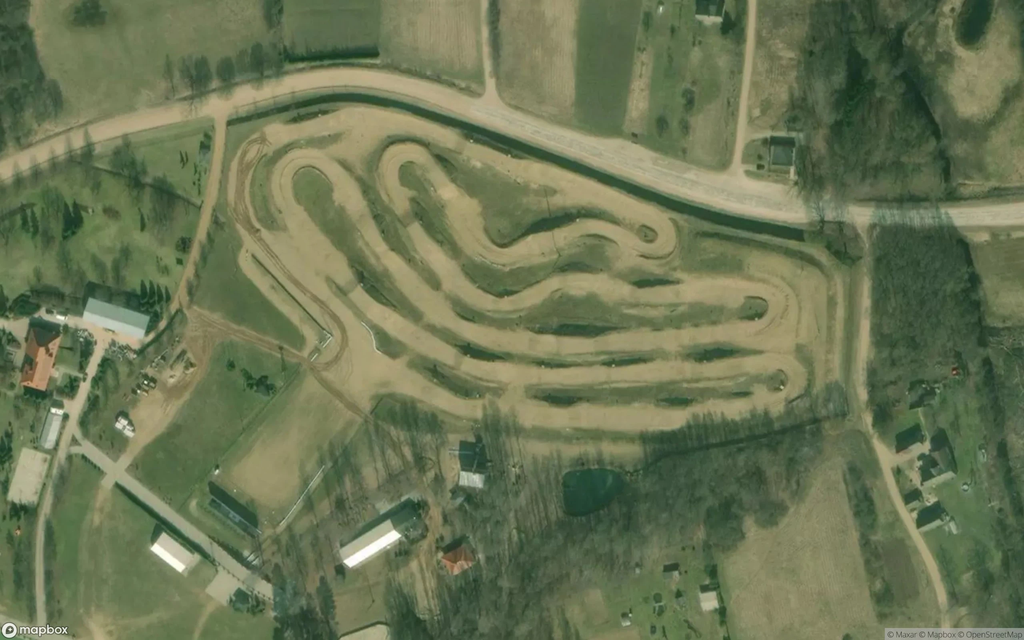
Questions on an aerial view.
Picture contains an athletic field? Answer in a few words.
Yes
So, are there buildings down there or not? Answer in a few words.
Yes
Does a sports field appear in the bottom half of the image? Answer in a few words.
Yes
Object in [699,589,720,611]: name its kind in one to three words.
house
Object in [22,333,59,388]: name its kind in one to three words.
house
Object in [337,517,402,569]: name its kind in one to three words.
barn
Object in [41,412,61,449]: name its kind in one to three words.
shed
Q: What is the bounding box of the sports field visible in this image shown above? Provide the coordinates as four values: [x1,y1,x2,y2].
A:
[218,368,366,531]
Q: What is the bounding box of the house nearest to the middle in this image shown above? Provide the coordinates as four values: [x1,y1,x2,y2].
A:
[459,447,488,488]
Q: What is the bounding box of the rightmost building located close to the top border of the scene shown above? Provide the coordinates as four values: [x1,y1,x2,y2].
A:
[694,0,725,30]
